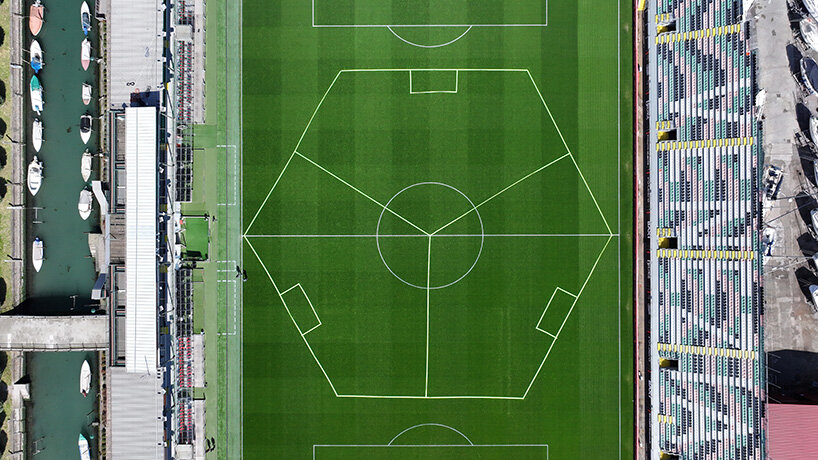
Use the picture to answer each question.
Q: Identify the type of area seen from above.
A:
sports ground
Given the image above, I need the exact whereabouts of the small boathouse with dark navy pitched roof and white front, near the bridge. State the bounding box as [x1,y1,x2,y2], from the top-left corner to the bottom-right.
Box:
[92,272,109,299]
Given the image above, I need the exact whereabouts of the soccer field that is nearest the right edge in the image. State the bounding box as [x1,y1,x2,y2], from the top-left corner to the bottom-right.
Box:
[240,0,632,460]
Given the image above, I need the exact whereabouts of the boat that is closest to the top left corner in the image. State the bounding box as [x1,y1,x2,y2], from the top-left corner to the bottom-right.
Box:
[30,2,44,38]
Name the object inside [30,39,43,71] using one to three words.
boat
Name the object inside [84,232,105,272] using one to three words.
pier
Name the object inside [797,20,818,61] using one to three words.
boat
